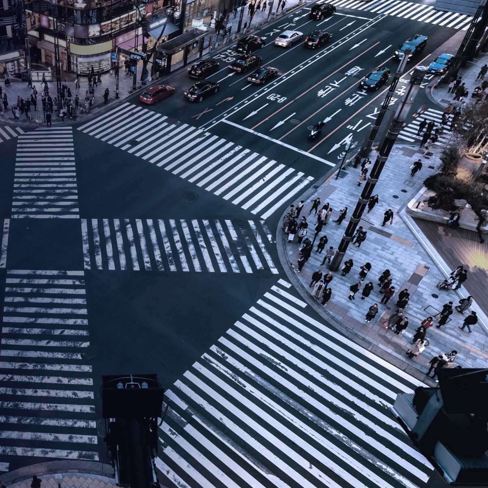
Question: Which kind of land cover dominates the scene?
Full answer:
What you mostly see from above here is paved ground.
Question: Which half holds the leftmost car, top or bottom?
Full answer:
It is in the top half that the leftmost car appears.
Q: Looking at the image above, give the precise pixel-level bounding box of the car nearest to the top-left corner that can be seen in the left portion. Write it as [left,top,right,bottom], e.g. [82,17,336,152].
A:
[139,83,175,103]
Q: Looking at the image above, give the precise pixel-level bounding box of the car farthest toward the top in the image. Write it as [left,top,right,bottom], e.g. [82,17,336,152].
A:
[310,1,337,17]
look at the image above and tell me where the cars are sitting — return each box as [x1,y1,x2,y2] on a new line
[236,29,267,52]
[183,80,220,100]
[359,63,395,89]
[187,58,221,78]
[274,27,306,46]
[230,53,262,72]
[396,29,429,57]
[246,63,280,83]
[139,83,175,103]
[305,29,334,47]
[310,1,337,17]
